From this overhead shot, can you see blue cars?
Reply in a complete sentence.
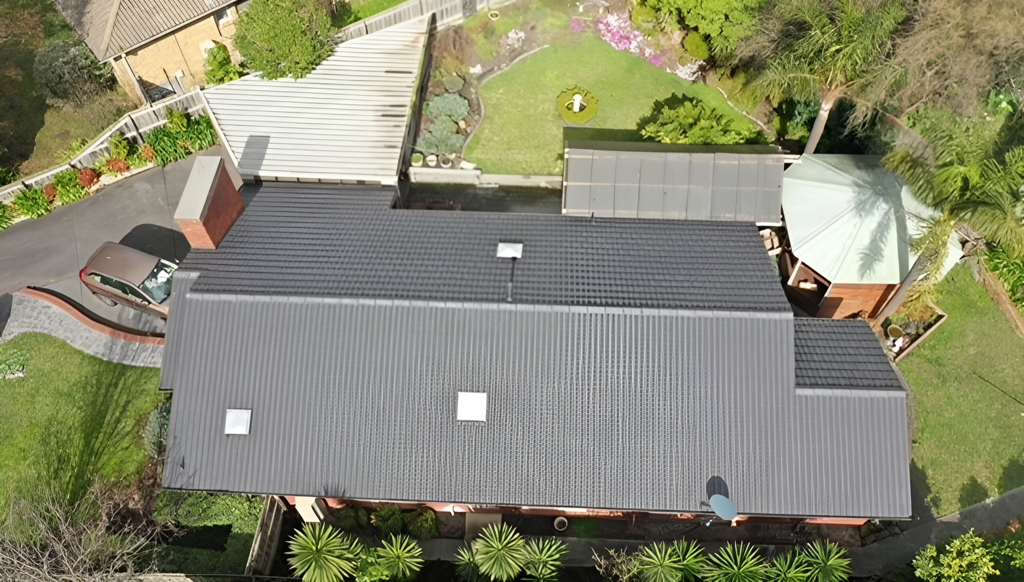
No, the frame has no blue car in it.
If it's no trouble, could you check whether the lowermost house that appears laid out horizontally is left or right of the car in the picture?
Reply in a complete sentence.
Looking at the photo, the lowermost house that appears laid out horizontally lies to the right of the car.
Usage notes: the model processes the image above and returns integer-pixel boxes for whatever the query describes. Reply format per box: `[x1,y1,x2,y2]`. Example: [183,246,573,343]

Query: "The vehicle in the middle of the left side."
[78,237,178,319]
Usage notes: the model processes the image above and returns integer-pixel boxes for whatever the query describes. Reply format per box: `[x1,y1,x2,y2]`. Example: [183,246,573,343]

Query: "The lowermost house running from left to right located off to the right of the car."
[155,155,914,525]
